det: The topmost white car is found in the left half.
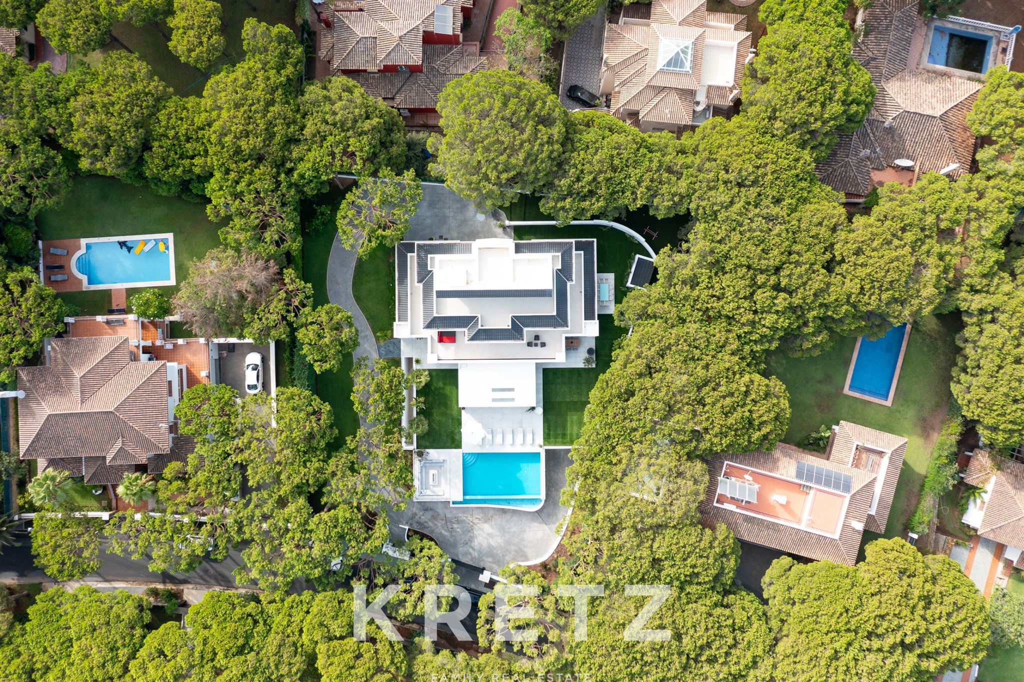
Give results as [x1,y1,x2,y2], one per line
[242,352,264,393]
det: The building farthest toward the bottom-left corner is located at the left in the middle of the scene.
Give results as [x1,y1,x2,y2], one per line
[1,335,208,485]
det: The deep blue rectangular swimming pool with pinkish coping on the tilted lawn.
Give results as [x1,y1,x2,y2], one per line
[843,309,913,407]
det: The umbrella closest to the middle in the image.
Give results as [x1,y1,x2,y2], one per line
[462,419,491,447]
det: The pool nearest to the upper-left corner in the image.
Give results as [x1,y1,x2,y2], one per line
[71,233,175,290]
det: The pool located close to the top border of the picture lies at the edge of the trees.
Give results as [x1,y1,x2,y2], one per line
[919,22,1001,77]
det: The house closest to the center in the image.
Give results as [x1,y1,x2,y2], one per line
[394,238,599,407]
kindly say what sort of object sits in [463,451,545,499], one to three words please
swimming pool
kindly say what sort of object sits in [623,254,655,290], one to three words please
shed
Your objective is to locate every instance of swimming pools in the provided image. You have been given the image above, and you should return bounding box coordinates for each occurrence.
[843,309,913,407]
[450,499,545,512]
[71,233,175,290]
[919,22,1001,77]
[463,451,545,499]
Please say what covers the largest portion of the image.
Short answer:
trees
